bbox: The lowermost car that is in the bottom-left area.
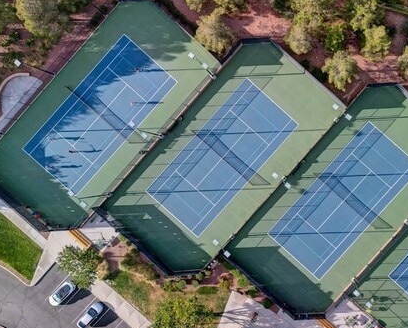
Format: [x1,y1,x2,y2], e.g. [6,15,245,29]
[77,300,105,328]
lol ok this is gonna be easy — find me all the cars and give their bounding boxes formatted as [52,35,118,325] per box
[49,279,77,306]
[77,300,105,328]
